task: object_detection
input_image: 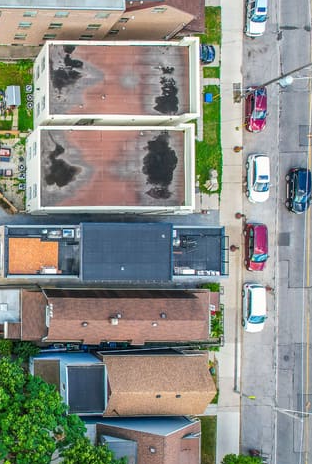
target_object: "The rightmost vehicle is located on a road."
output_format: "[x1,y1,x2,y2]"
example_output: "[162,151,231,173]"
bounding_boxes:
[282,168,310,213]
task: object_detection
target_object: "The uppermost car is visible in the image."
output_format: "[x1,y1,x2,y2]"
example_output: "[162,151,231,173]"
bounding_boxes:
[241,0,269,37]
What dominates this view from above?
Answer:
buildings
